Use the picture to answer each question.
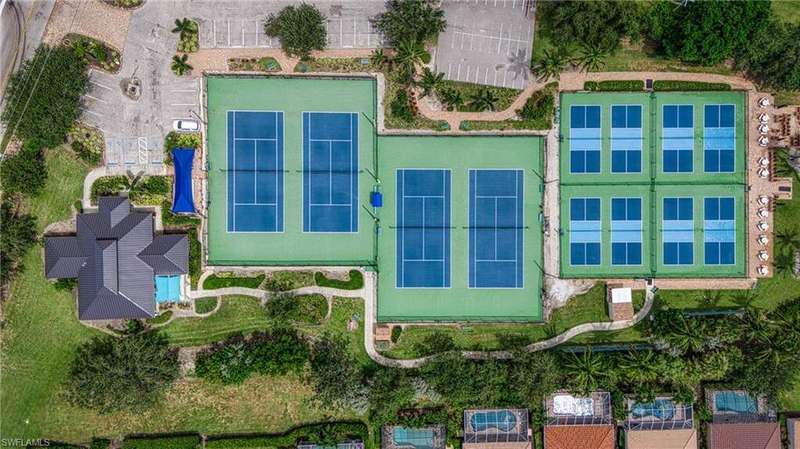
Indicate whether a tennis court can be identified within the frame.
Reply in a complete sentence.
Yes, the photo shows a tennis court.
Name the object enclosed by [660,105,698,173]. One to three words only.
sports court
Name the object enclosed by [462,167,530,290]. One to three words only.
tennis court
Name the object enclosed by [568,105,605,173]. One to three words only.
sports court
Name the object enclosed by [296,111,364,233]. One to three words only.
tennis court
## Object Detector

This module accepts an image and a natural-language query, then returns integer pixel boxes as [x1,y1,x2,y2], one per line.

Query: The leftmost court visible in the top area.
[220,110,288,233]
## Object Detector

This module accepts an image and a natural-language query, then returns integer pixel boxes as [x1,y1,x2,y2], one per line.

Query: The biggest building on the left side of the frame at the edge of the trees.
[45,197,191,319]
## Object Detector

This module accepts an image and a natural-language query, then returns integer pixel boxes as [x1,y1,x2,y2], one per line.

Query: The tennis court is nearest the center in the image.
[391,167,458,290]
